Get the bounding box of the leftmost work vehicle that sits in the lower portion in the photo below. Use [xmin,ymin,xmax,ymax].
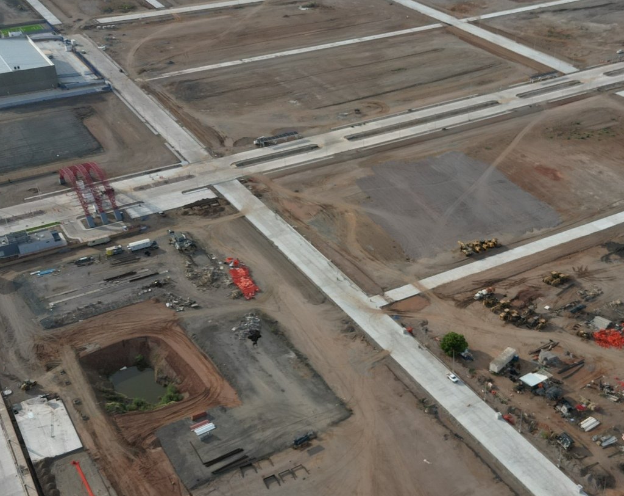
[17,377,38,391]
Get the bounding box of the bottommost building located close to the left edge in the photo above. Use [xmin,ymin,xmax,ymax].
[0,223,65,254]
